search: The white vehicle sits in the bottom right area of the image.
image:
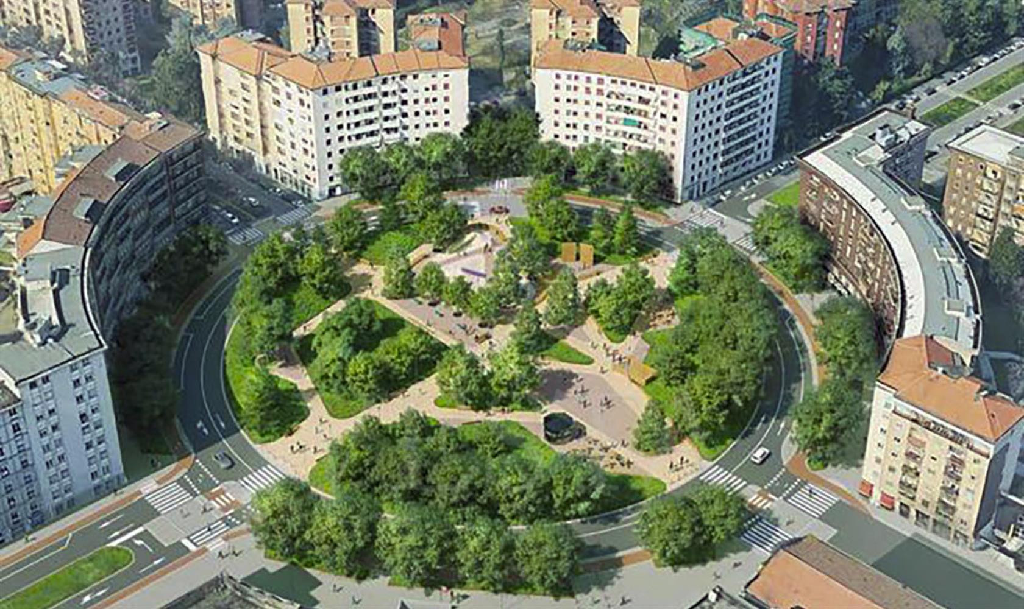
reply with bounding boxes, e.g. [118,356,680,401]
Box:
[750,446,770,463]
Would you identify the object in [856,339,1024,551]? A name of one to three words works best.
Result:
building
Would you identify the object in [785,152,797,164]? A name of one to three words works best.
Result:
vehicle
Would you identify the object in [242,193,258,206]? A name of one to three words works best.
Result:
vehicle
